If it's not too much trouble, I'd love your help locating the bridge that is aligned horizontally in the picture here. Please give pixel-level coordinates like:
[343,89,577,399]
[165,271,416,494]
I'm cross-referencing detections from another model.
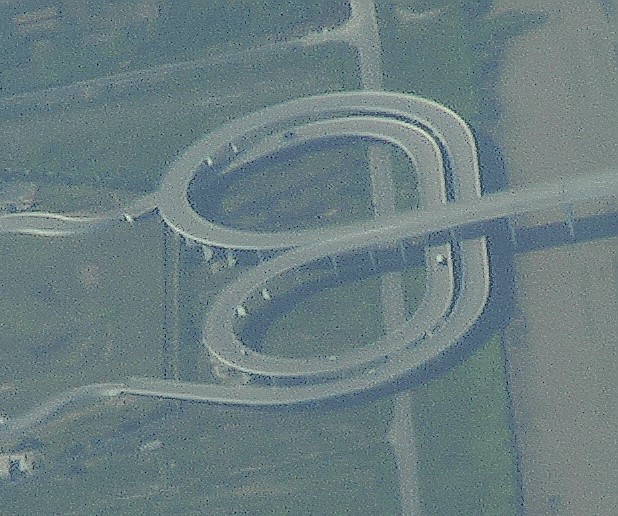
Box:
[303,170,618,280]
